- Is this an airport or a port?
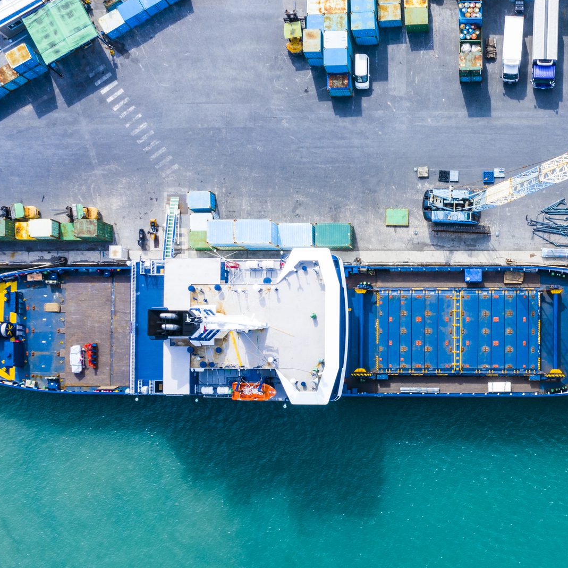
port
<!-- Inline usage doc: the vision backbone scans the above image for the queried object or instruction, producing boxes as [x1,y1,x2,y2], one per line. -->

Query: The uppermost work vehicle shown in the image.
[512,0,525,13]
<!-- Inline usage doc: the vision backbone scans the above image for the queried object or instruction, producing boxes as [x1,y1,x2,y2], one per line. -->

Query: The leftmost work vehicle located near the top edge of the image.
[285,17,304,55]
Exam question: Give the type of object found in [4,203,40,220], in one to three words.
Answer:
work vehicle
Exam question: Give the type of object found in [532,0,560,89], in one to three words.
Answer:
truck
